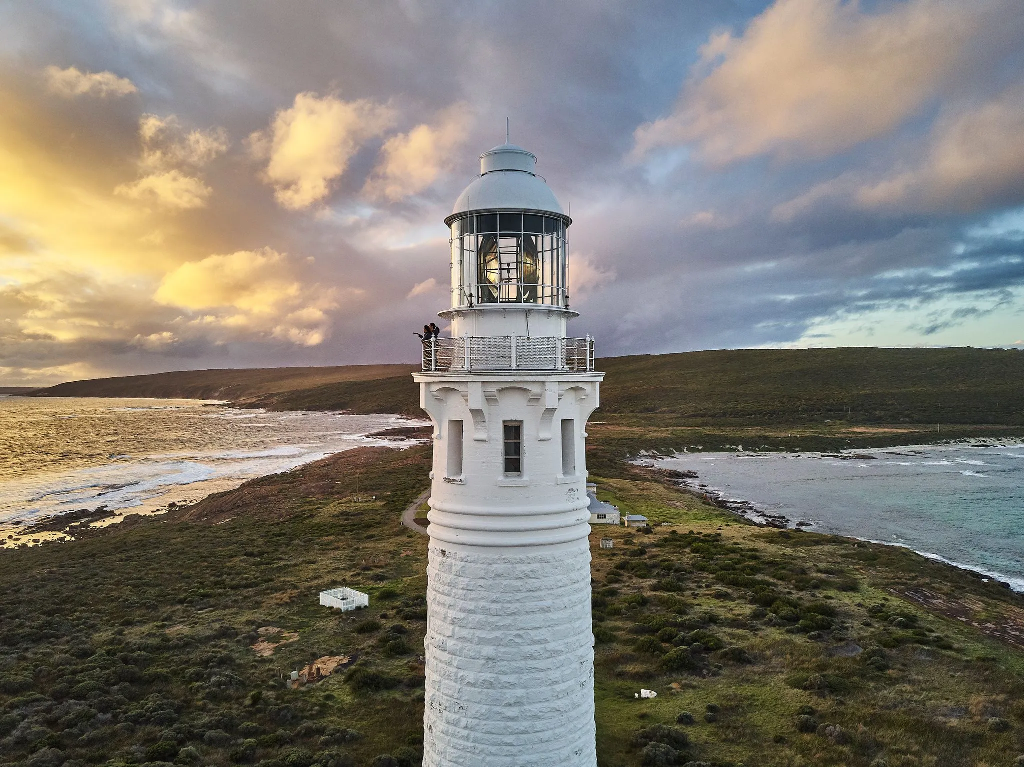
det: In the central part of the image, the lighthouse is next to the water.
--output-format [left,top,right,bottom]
[411,116,607,767]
